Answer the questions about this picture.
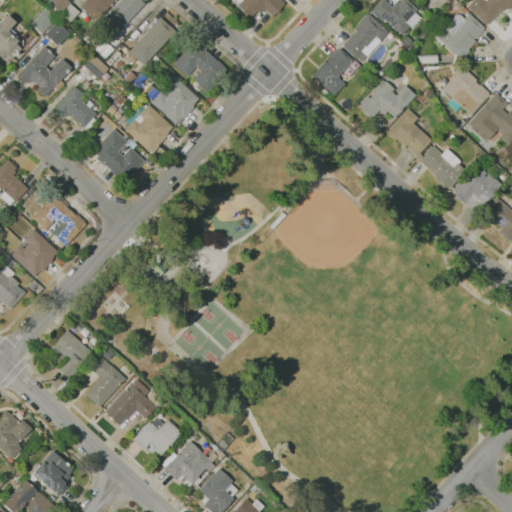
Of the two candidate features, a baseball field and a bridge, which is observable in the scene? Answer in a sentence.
The image shows a baseball field.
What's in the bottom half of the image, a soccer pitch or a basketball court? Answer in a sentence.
What appears in the bottom half of the image is a basketball court.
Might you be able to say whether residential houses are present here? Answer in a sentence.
Yes, the frame does contain a residential house.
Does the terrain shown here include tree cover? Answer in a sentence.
Yes, tree cover shows up in the scene.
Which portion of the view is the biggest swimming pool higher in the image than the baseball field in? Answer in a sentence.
The biggest swimming pool higher in the image than the baseball field appears toward the top right of the photo.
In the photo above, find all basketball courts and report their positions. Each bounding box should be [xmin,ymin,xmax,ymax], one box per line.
[174,323,224,372]
[196,302,246,350]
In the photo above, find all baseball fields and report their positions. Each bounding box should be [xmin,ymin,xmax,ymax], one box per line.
[278,178,377,269]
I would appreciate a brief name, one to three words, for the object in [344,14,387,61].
house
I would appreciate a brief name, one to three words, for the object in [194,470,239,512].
house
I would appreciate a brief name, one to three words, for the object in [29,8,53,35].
building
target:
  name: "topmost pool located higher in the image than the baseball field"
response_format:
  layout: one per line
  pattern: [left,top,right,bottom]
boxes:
[366,42,390,64]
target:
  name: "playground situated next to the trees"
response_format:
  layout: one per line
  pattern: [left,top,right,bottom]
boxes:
[212,193,264,243]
